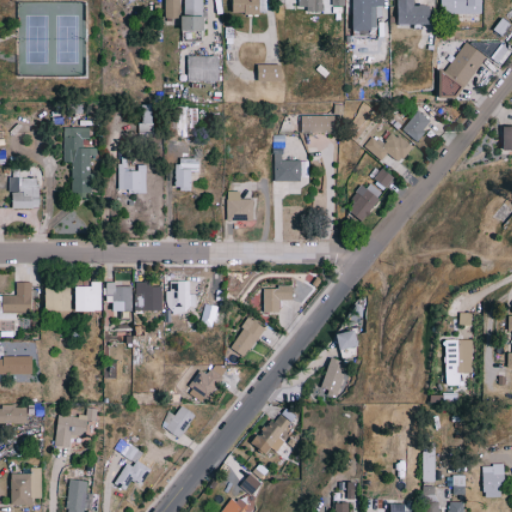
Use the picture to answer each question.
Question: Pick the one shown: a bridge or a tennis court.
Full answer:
The image shows a tennis court.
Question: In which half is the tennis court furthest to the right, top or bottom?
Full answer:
The tennis court furthest to the right sits in the top half of the picture.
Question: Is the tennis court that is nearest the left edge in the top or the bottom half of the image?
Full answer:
The tennis court that is nearest the left edge is in the top half of the image.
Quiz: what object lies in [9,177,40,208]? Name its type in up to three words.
house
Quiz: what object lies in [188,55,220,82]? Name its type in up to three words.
building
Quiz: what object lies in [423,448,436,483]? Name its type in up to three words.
house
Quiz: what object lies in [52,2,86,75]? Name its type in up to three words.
tennis court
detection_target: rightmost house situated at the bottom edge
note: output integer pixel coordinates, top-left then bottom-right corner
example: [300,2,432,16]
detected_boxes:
[482,464,506,498]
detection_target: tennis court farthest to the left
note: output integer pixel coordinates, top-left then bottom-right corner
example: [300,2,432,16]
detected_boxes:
[18,2,52,75]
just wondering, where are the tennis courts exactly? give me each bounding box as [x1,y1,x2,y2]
[52,2,86,75]
[18,2,52,75]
